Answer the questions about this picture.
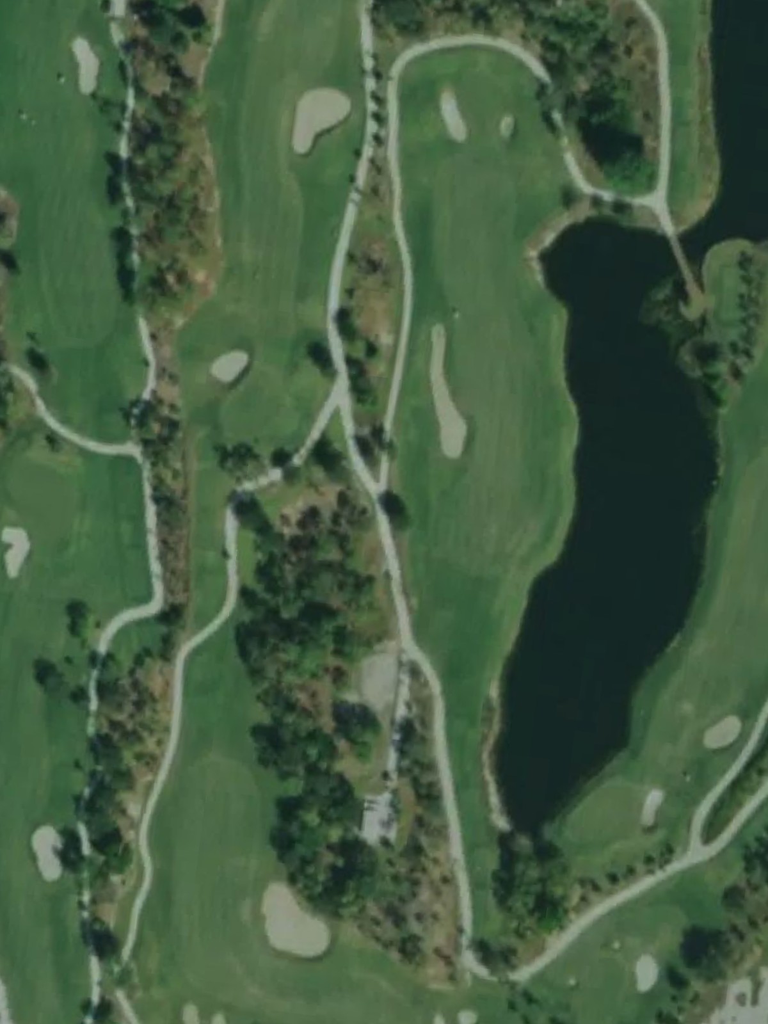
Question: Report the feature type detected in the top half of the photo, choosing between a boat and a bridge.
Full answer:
What appears in the top half of the photo is a bridge.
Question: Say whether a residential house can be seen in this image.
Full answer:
No, the frame has no residential house in it.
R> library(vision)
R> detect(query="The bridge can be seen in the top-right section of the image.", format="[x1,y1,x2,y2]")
[666,224,699,302]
